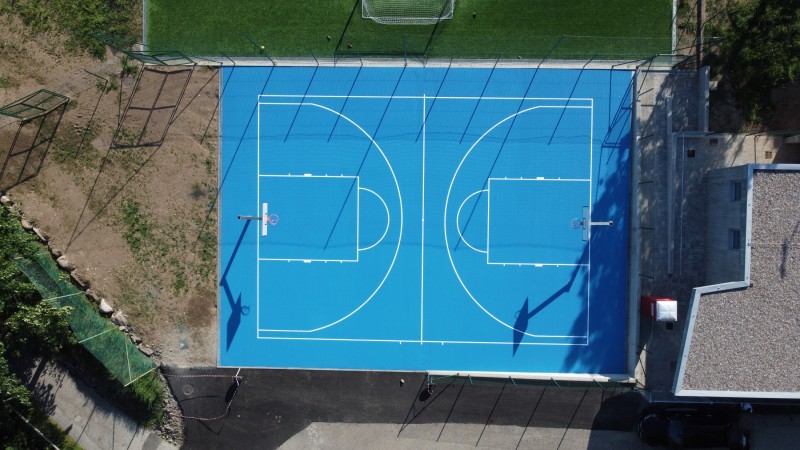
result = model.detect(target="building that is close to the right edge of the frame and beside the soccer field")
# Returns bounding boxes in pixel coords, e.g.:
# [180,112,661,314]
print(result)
[670,166,800,400]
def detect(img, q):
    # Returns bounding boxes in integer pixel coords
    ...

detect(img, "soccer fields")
[142,0,678,59]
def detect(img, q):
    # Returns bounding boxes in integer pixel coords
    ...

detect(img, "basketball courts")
[217,66,634,375]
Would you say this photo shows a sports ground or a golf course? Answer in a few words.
sports ground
